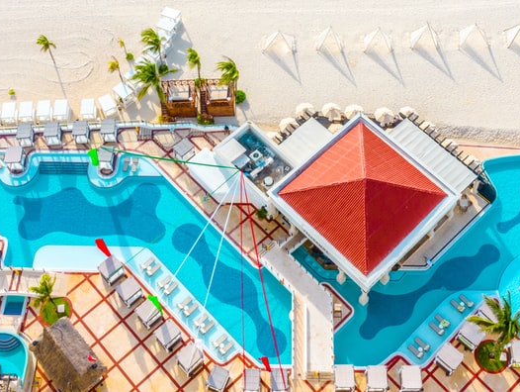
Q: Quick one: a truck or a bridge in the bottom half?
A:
bridge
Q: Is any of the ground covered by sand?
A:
Yes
